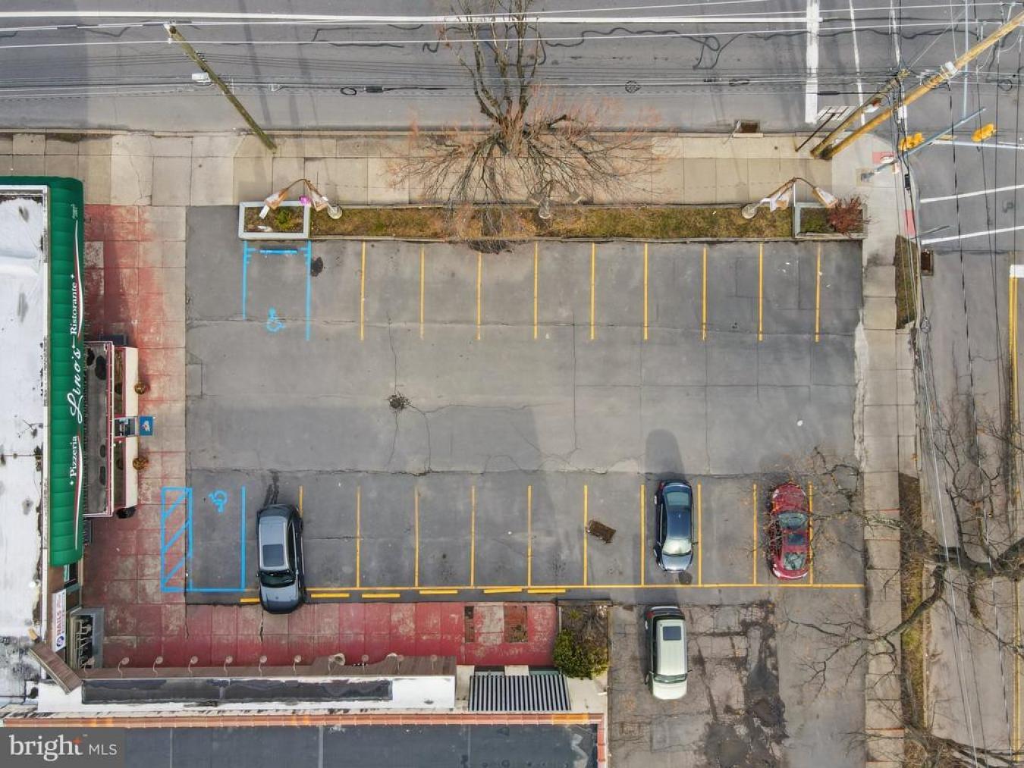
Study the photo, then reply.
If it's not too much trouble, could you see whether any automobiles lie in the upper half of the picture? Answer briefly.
No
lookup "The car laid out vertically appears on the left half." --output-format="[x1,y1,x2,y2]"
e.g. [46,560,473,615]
[252,504,302,611]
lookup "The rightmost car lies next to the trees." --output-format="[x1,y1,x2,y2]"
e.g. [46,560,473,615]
[766,482,815,581]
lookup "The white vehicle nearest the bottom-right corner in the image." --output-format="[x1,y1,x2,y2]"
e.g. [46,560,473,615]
[647,601,694,699]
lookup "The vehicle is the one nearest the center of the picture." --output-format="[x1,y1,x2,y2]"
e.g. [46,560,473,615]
[654,481,698,575]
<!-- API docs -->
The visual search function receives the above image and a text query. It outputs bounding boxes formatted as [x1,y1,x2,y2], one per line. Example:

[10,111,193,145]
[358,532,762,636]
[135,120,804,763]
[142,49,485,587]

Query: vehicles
[654,481,698,575]
[647,601,694,699]
[252,504,302,611]
[766,482,815,581]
